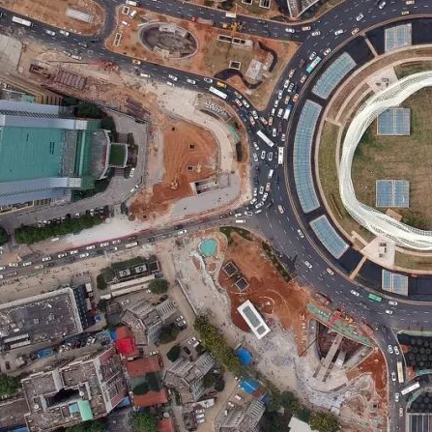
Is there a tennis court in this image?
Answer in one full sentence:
No, no tennis court is visible in the scene.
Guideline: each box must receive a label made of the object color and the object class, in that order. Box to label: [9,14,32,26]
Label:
white vehicle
